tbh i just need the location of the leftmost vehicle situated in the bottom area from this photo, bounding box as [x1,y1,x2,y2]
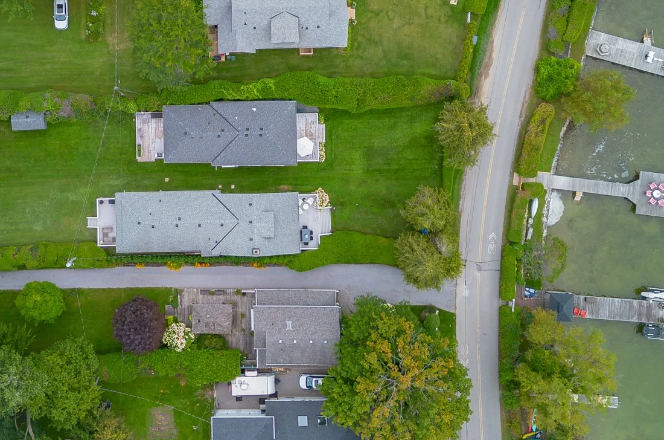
[231,374,281,400]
